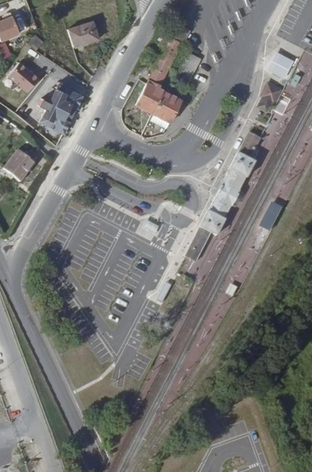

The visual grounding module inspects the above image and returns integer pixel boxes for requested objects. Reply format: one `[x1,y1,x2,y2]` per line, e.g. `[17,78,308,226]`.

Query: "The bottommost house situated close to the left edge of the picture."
[4,148,34,181]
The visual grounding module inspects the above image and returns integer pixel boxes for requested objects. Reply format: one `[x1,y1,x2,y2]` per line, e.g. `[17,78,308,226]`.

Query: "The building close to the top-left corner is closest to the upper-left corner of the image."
[0,16,20,42]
